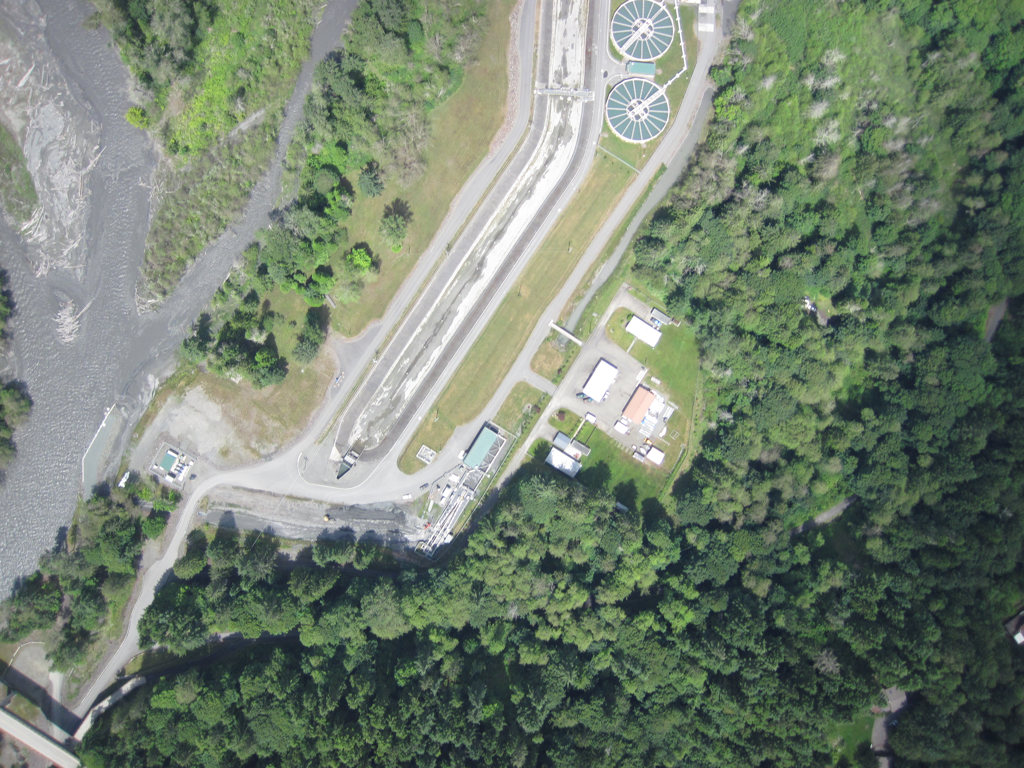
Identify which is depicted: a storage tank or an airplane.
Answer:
storage tank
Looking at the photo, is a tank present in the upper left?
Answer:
No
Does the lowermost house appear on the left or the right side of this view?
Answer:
right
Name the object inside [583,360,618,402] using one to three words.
building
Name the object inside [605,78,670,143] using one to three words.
storage tank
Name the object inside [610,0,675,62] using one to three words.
storage tank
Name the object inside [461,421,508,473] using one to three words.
house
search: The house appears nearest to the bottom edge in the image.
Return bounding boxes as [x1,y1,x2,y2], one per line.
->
[882,682,908,710]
